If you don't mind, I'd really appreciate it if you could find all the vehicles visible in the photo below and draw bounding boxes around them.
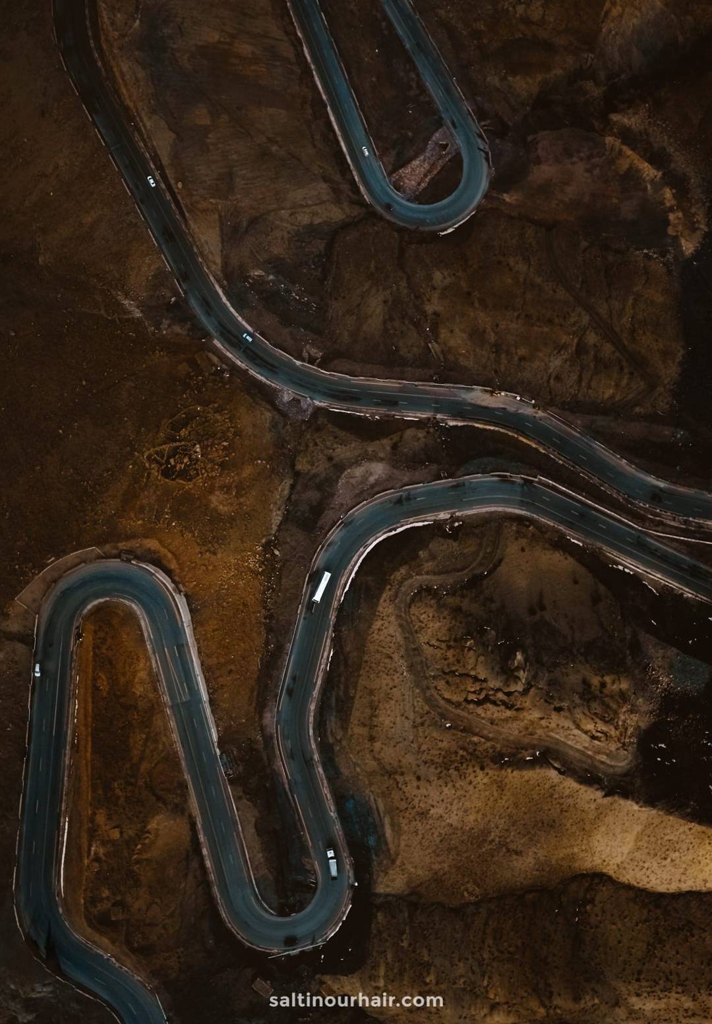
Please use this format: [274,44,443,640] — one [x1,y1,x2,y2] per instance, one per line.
[242,333,253,343]
[34,664,40,677]
[326,848,338,881]
[312,571,331,604]
[362,145,369,157]
[147,175,155,187]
